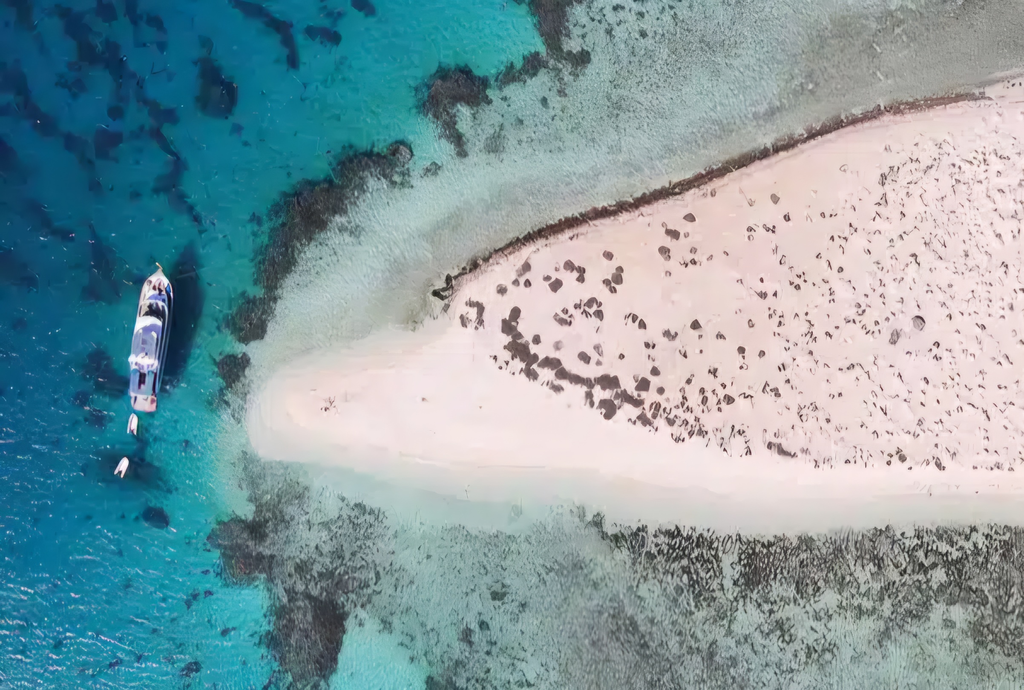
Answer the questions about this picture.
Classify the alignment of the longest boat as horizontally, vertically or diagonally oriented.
vertically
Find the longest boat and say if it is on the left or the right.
left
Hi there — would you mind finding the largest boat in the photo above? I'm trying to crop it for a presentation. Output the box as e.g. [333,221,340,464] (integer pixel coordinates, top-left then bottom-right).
[122,265,175,413]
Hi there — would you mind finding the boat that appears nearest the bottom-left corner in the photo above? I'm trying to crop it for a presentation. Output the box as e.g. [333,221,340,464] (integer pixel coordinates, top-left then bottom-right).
[114,456,129,479]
